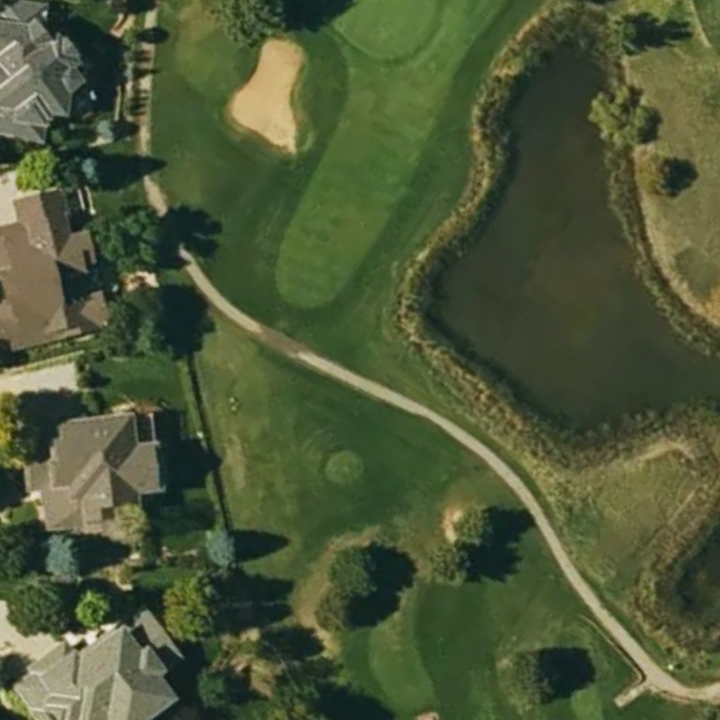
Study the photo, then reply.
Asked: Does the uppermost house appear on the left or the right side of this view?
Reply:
left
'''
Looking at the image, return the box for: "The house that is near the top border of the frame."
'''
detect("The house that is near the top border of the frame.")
[0,0,91,151]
